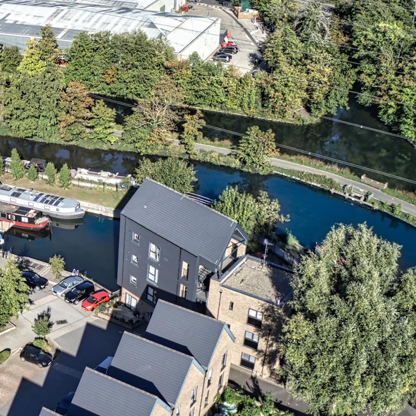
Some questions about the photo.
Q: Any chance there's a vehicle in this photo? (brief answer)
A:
Yes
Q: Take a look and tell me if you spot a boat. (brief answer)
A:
Yes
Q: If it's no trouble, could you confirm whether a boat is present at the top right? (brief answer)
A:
No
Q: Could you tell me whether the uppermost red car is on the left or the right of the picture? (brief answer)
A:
left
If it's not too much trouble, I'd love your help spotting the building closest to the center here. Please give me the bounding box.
[116,175,250,321]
